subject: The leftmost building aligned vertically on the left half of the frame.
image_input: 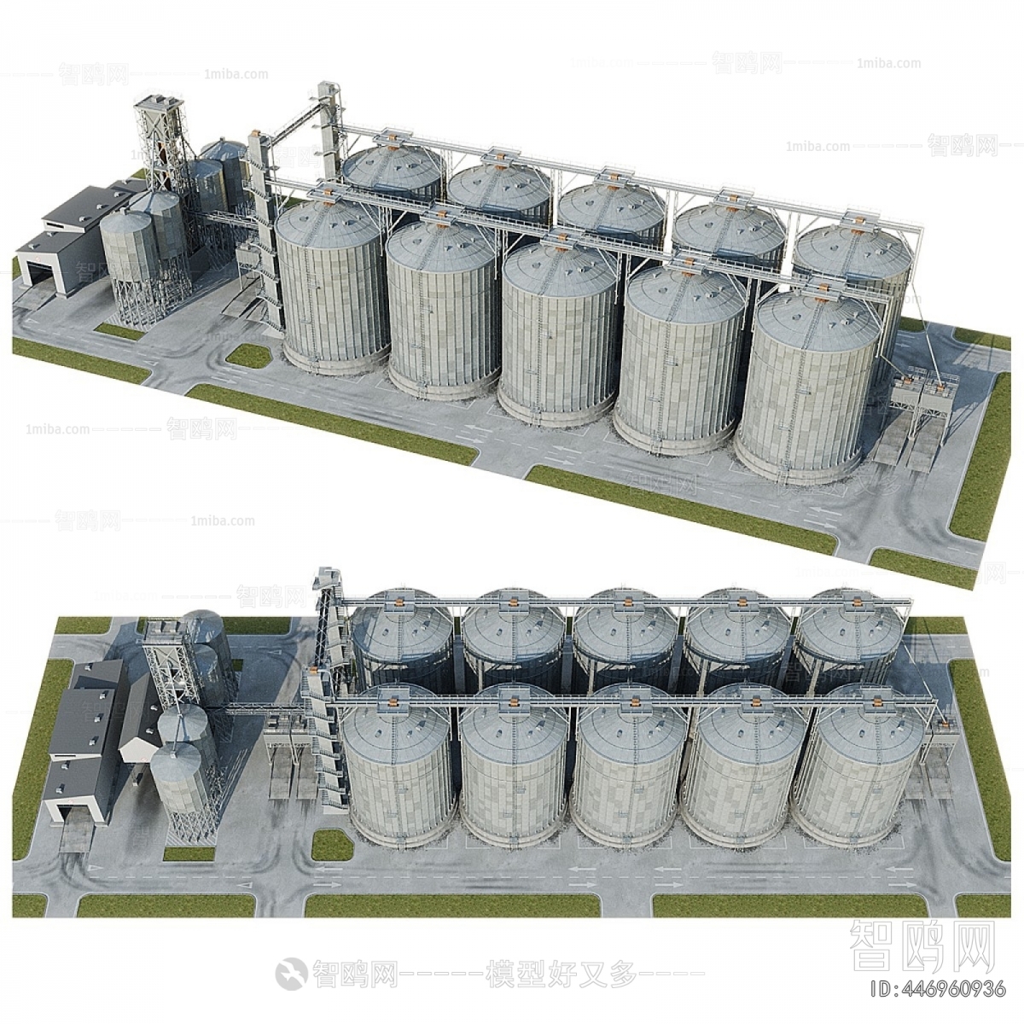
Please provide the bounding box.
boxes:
[43,653,132,826]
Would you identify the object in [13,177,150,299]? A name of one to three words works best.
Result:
warehouse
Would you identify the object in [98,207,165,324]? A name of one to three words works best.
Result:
silo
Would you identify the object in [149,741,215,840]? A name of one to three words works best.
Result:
silo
